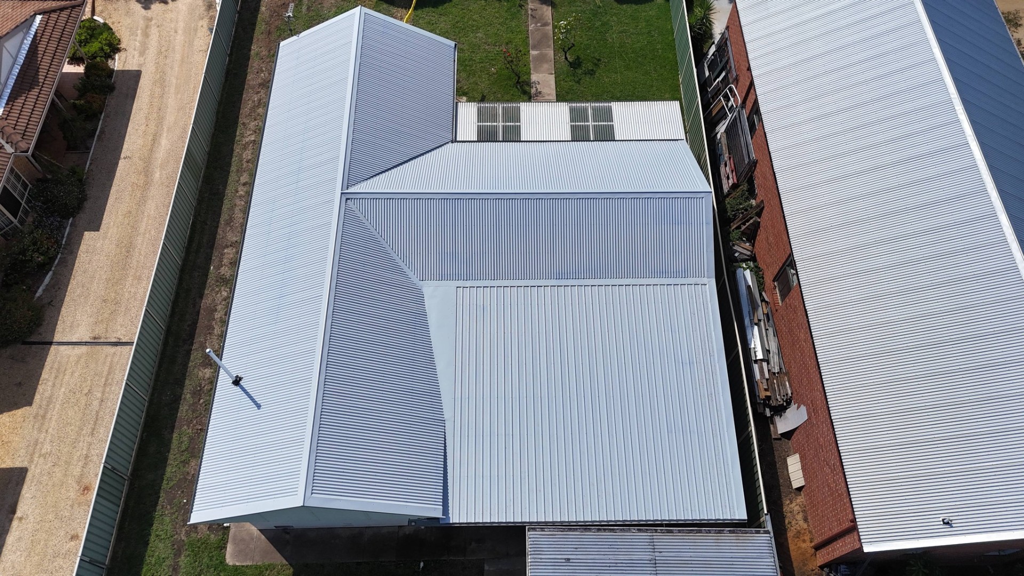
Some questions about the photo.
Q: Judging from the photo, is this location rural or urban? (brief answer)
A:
urban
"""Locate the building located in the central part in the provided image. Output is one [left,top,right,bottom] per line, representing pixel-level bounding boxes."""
[184,5,746,530]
